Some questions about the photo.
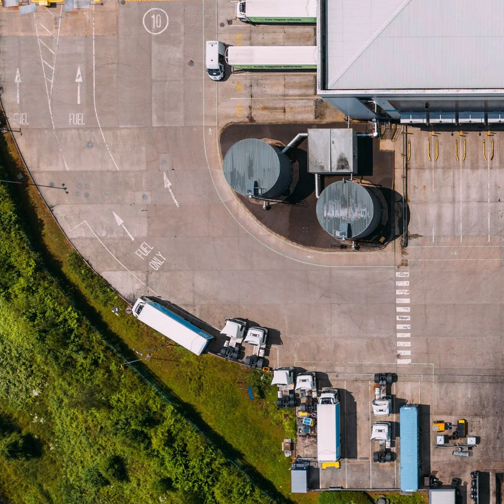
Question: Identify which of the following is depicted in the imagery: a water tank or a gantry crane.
water tank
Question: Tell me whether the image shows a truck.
Yes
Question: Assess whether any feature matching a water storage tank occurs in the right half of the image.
Yes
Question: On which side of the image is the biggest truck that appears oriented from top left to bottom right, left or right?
left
